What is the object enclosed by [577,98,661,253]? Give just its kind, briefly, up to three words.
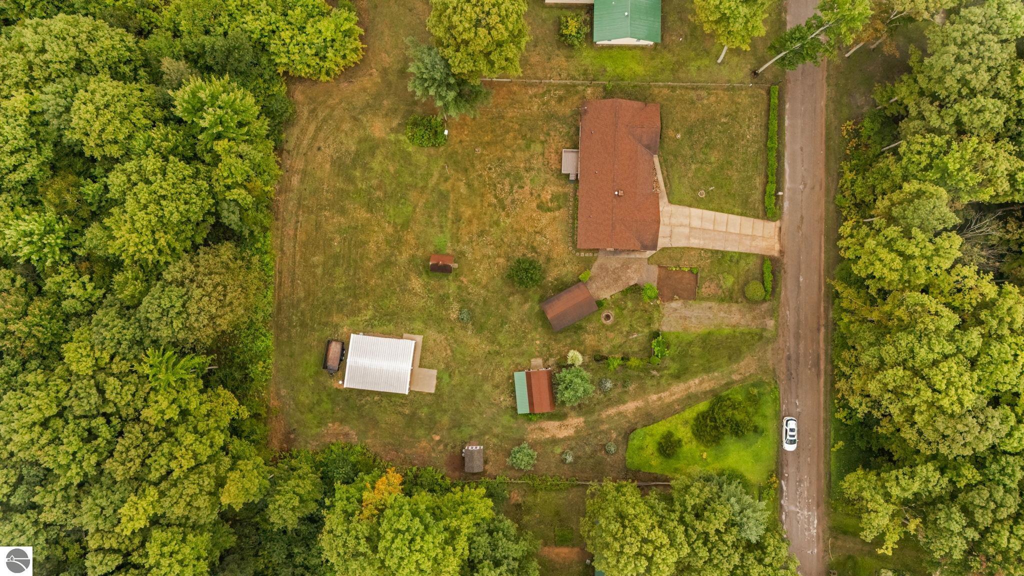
house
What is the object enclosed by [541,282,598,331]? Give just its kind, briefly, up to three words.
shed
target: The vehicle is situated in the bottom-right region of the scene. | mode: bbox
[781,417,800,451]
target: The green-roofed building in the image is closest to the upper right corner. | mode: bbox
[594,0,661,45]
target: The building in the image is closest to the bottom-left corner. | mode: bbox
[343,334,418,394]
